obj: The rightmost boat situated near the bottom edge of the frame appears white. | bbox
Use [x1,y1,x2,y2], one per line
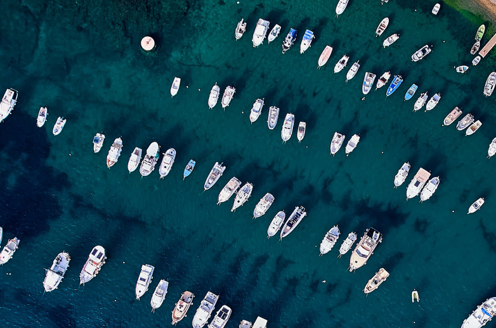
[462,296,496,328]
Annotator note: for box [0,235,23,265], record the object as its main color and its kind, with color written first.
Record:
white boat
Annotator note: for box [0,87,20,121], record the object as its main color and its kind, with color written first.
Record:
white boat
